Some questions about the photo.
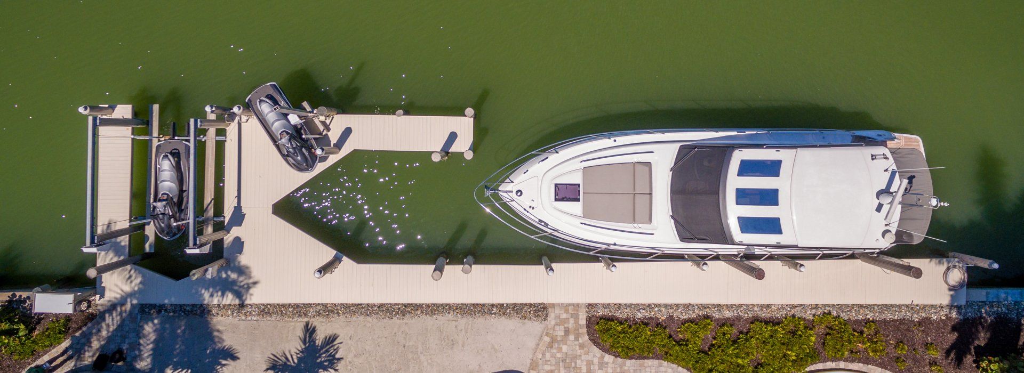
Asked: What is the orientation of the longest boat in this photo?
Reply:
horizontally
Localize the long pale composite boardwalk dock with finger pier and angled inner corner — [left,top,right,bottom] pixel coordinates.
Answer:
[97,105,966,304]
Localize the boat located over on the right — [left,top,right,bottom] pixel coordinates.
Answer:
[474,127,949,261]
